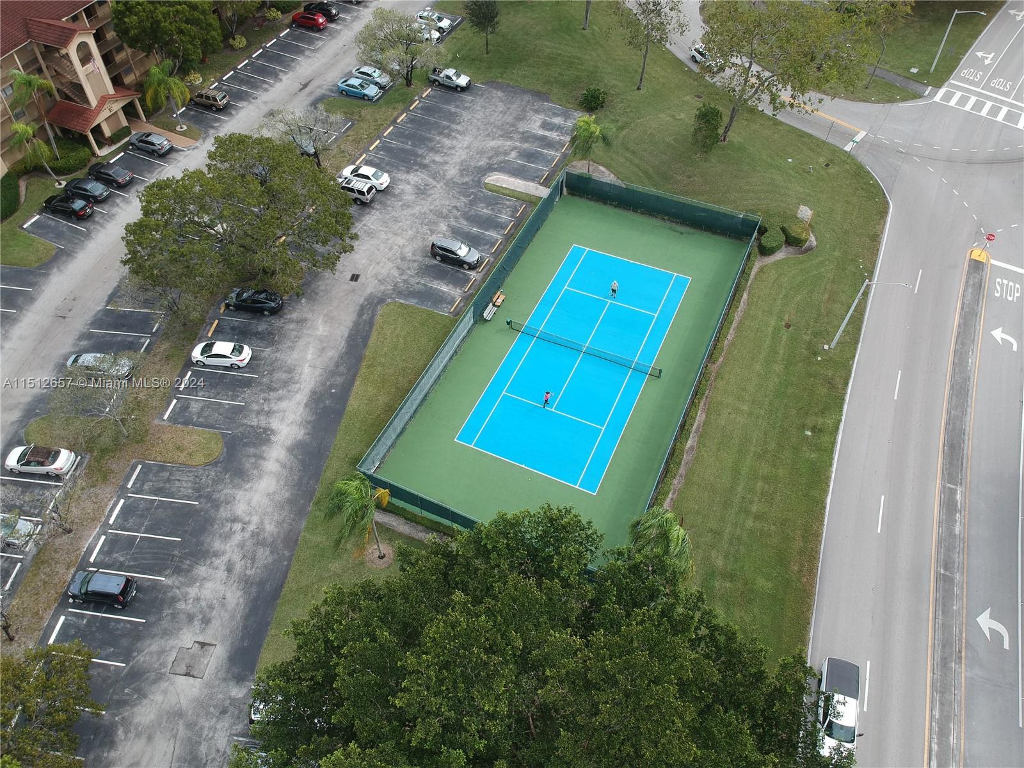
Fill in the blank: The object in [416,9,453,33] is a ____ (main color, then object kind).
white car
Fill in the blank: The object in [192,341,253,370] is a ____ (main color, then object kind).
white car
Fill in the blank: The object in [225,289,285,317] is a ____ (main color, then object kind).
black car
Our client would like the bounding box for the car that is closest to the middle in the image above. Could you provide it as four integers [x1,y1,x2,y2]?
[429,236,481,269]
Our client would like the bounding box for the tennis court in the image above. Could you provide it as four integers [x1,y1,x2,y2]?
[376,195,747,594]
